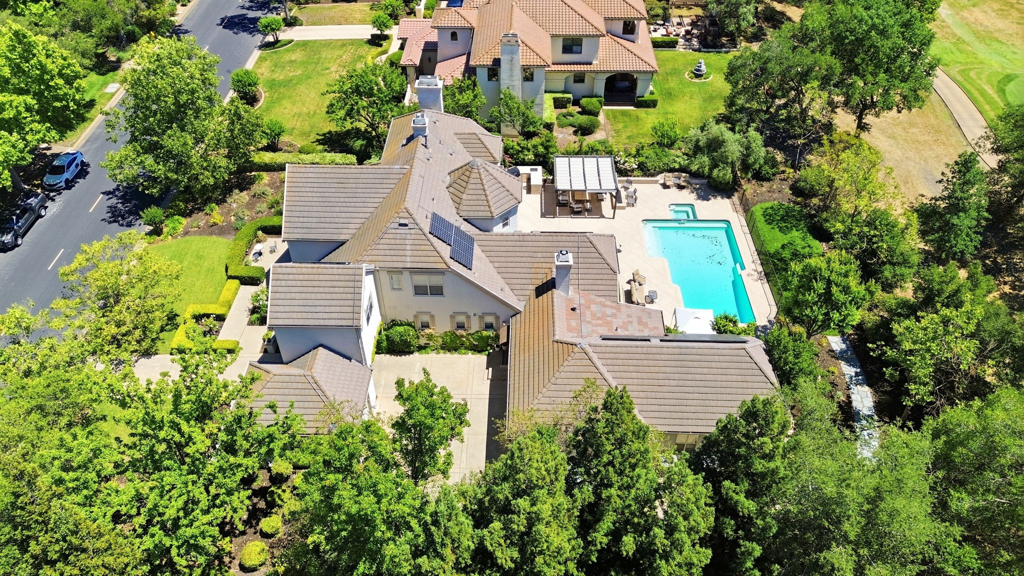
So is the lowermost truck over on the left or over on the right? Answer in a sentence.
The lowermost truck is on the left side of the image.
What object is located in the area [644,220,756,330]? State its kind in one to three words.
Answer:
swimming pool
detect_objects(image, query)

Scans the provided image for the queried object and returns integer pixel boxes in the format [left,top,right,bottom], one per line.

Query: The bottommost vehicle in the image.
[0,195,46,247]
